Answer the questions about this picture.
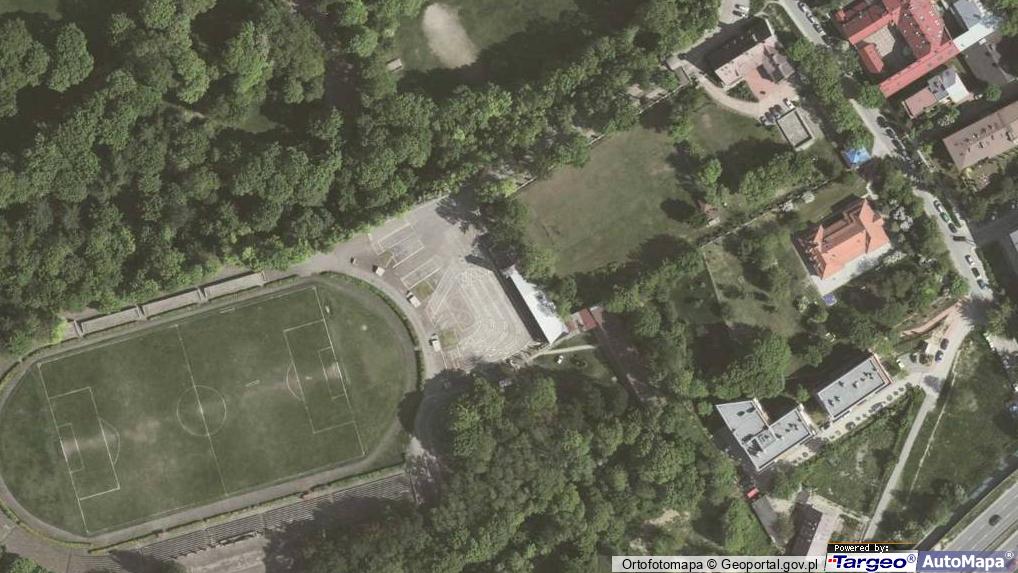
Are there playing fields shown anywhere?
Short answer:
Yes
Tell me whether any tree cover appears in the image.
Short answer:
Yes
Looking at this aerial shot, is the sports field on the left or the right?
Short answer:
left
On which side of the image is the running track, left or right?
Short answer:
left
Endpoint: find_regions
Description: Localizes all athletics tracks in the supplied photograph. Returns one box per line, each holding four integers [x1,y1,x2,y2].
[0,280,409,540]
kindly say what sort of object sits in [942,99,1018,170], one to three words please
building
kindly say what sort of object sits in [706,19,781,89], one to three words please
house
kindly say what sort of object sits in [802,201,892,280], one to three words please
house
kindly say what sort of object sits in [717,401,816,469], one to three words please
building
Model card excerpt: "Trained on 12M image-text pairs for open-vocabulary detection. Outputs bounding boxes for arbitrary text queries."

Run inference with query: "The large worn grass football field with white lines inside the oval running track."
[40,287,364,533]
